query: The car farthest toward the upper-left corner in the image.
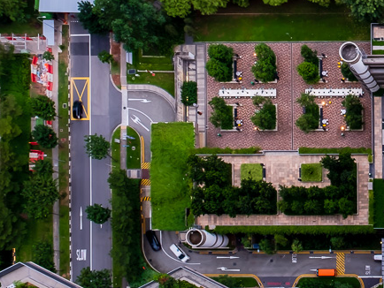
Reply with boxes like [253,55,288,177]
[72,99,84,121]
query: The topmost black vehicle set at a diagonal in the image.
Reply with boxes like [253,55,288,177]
[145,229,163,252]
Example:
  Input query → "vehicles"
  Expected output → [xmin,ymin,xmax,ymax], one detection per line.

[72,99,84,121]
[373,253,381,263]
[145,229,163,252]
[311,268,338,278]
[168,241,192,263]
